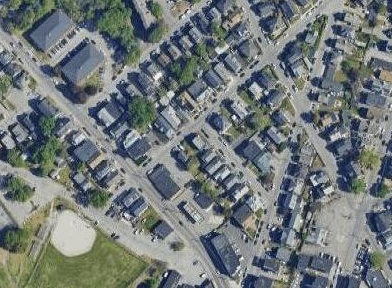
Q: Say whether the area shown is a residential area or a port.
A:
residential area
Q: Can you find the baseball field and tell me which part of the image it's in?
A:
bottom left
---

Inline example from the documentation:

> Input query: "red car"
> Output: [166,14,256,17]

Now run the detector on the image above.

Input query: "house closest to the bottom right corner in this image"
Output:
[366,267,390,288]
